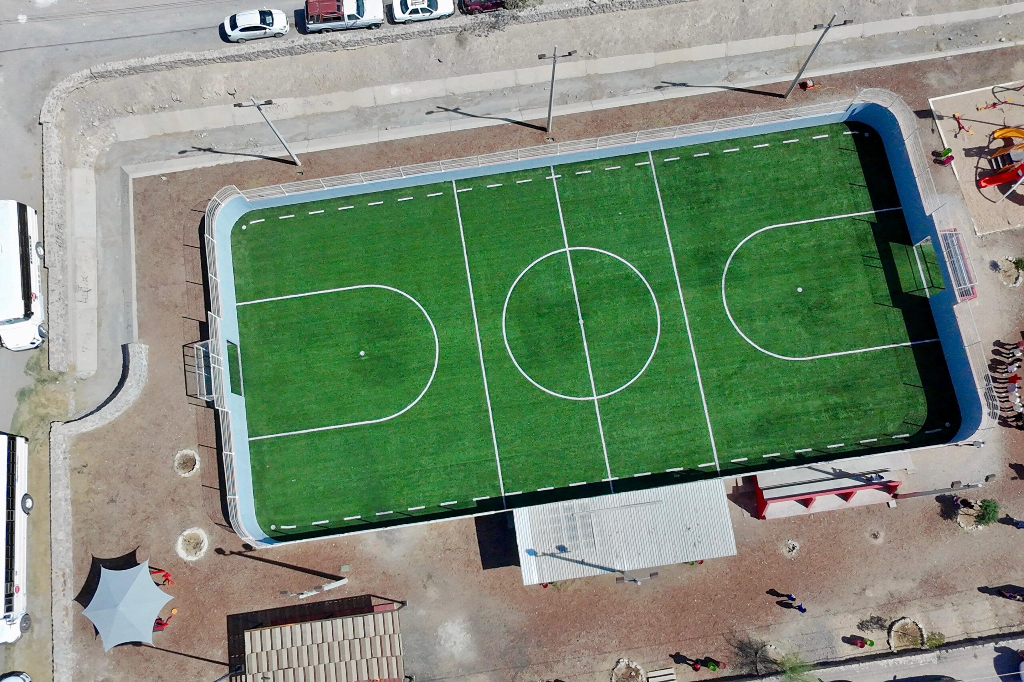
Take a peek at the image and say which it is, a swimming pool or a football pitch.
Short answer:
football pitch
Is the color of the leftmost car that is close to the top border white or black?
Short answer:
white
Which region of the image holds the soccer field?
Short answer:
center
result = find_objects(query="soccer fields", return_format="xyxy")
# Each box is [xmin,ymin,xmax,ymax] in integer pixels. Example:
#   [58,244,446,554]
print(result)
[230,121,959,543]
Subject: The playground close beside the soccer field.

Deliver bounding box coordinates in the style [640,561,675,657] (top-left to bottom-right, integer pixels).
[928,79,1024,235]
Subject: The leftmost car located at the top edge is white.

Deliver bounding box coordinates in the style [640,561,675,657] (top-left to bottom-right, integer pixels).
[223,4,290,44]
